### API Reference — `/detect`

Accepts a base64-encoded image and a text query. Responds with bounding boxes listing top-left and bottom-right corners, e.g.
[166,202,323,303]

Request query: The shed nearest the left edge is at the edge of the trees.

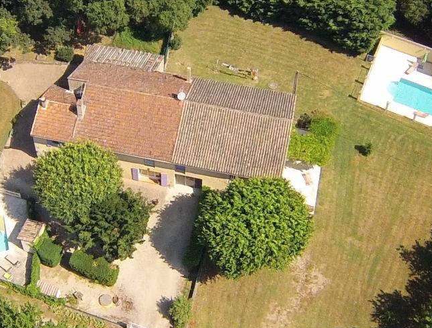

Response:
[17,218,45,252]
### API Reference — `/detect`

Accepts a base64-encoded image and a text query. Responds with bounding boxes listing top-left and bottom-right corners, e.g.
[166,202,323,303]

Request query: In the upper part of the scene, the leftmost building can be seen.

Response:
[29,44,297,201]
